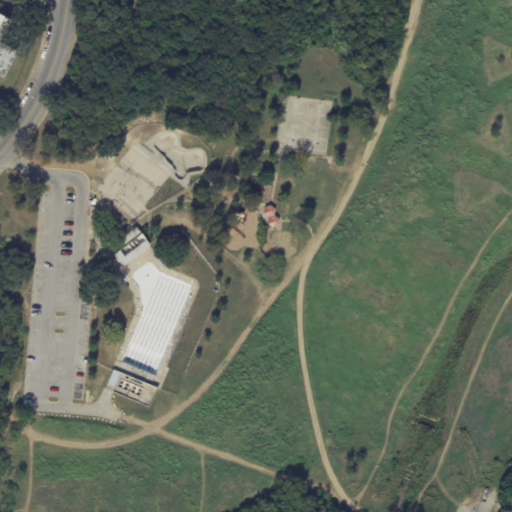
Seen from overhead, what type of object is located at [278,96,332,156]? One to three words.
basketball court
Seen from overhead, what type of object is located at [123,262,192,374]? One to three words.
swimming pool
